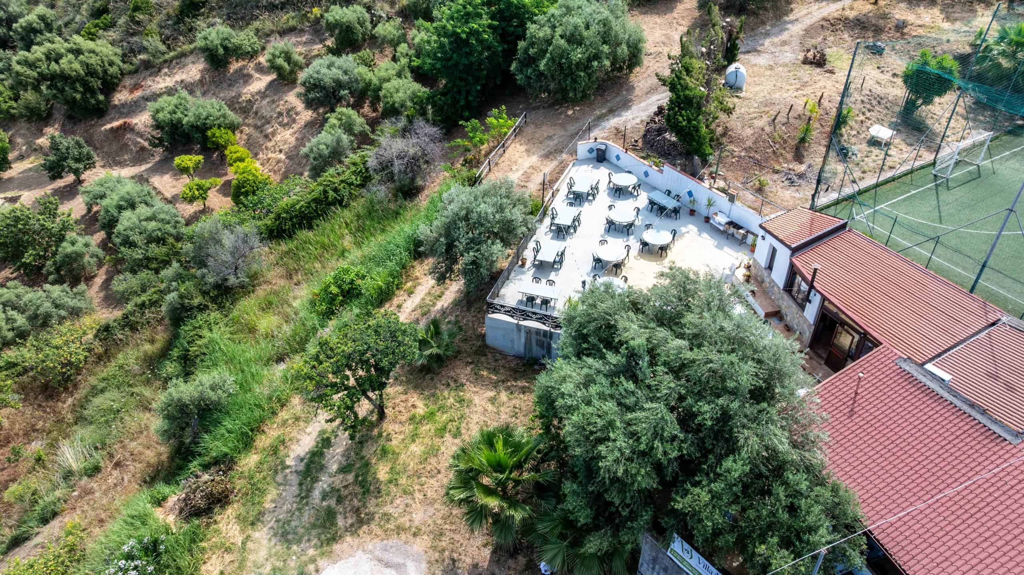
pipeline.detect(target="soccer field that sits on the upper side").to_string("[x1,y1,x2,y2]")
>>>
[817,131,1024,321]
